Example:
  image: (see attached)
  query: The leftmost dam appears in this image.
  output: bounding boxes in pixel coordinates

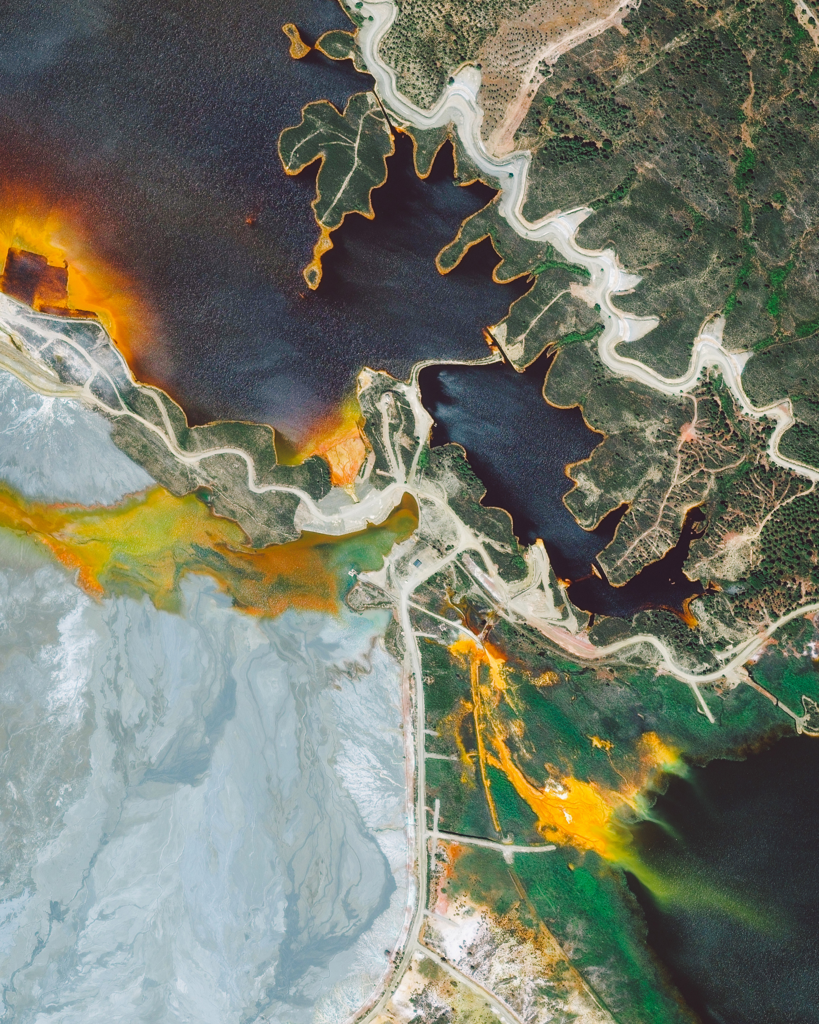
[294,479,412,536]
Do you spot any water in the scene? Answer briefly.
Yes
